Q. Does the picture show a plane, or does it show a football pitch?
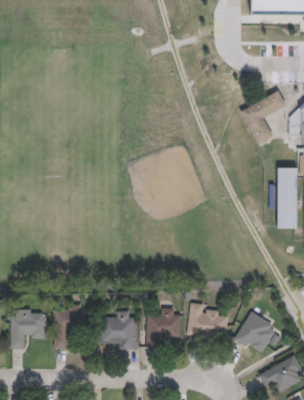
football pitch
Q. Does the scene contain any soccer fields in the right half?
No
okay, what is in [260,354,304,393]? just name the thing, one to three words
house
